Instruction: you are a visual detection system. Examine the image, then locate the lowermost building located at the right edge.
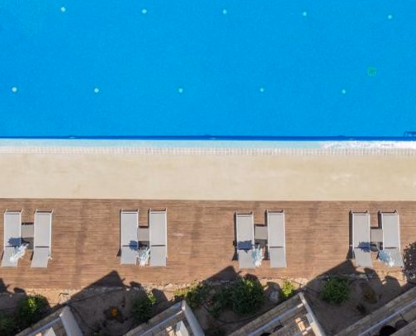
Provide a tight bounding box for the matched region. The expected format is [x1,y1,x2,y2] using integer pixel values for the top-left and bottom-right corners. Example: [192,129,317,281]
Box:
[326,282,416,336]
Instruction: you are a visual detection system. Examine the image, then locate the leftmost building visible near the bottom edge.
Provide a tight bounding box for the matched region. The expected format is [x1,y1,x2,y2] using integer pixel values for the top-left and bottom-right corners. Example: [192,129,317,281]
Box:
[6,299,81,336]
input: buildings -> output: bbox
[6,299,81,336]
[326,282,416,336]
[218,290,321,336]
[106,293,199,336]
